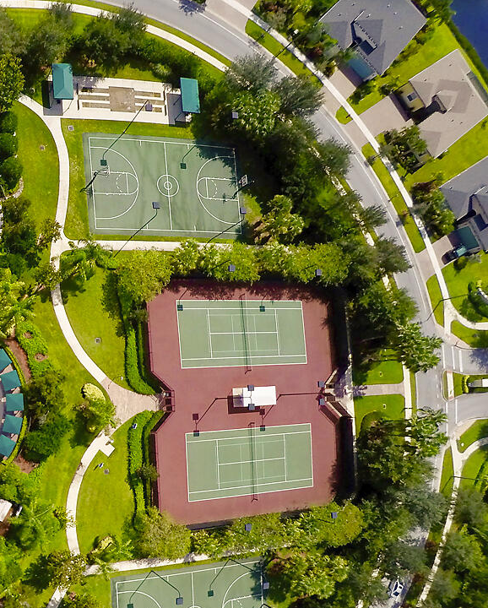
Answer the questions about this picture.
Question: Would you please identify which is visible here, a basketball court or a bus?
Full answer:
Visible in the photo is a basketball court.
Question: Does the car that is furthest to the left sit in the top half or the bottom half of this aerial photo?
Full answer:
You can find the car that is furthest to the left in the bottom half.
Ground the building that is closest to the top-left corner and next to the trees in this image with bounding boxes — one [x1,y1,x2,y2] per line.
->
[50,63,73,106]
